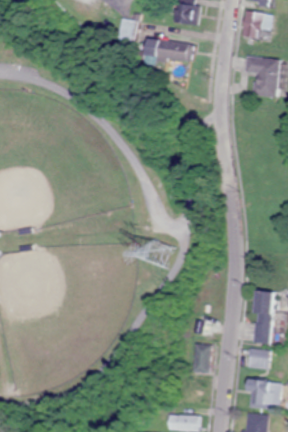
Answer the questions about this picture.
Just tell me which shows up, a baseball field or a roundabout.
baseball field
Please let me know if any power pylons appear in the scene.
Yes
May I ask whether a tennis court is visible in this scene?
No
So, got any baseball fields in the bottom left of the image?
Yes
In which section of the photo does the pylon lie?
center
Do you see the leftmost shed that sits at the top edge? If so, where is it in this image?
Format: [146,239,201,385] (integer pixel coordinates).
[120,20,139,41]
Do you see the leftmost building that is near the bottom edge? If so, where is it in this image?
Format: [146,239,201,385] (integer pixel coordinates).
[168,415,203,431]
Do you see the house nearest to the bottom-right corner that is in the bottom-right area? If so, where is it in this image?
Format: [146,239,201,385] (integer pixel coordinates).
[248,414,272,432]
